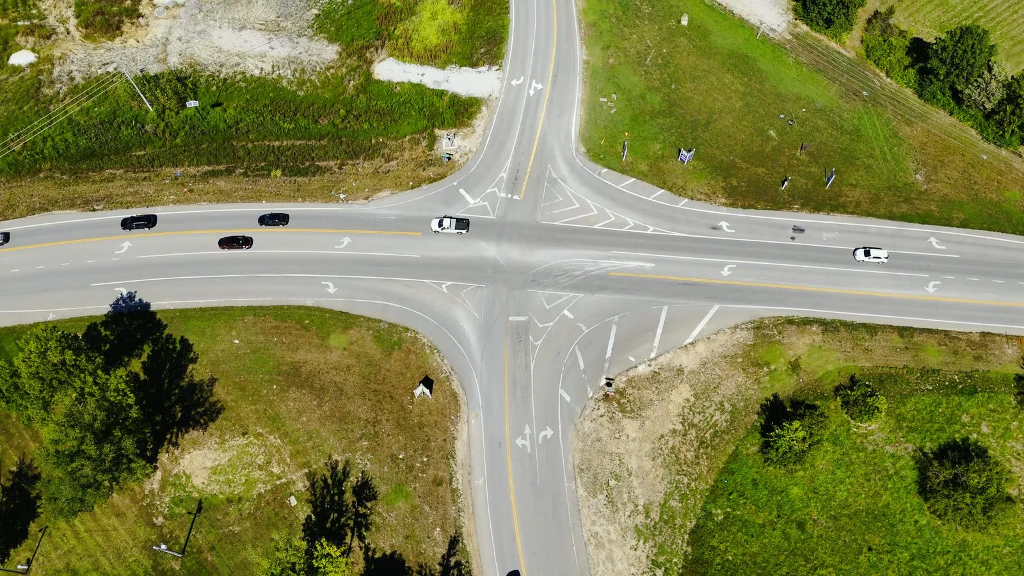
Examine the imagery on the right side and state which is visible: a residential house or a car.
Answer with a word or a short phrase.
car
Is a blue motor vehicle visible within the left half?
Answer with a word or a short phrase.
No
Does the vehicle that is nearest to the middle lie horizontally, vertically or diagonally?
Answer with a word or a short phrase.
horizontally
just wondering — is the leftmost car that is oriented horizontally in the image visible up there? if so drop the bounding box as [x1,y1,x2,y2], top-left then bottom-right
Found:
[118,212,157,232]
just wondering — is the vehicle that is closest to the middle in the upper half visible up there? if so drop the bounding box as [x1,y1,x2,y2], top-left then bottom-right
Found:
[429,215,473,235]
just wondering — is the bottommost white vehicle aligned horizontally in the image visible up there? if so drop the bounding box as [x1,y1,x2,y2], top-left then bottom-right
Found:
[854,246,892,265]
